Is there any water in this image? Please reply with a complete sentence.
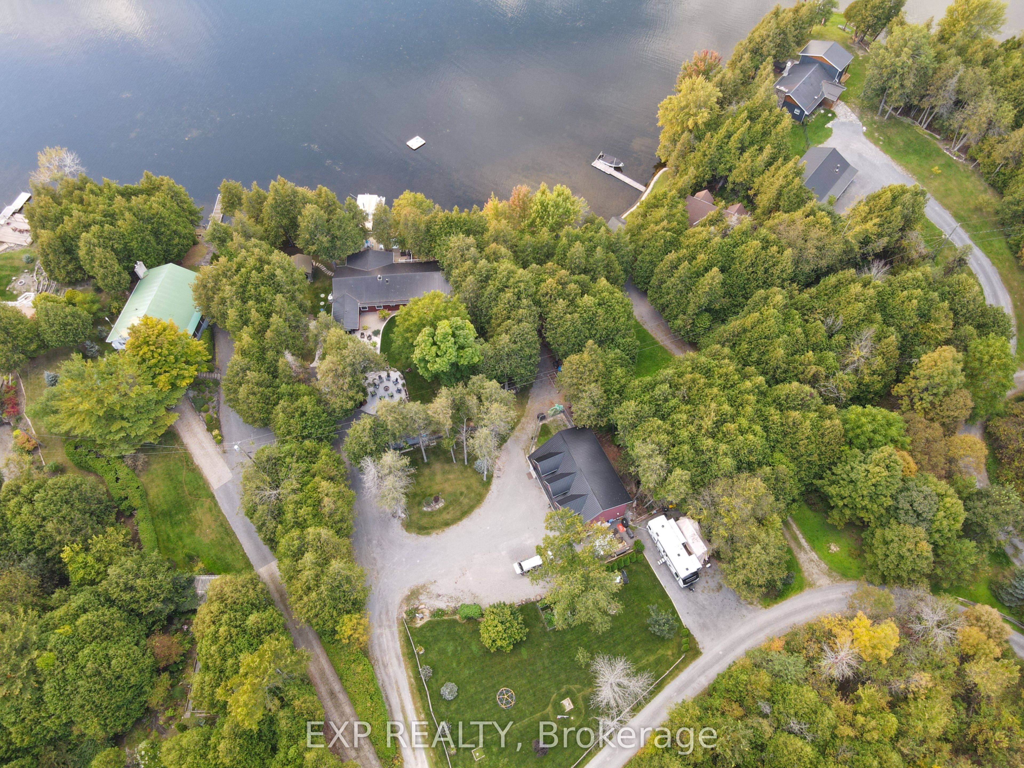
Yes, there's water in this view.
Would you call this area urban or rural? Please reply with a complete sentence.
The area is rural.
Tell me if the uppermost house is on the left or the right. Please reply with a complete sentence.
The uppermost house appears in the right half of the scene.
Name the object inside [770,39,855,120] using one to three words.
house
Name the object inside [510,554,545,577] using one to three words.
car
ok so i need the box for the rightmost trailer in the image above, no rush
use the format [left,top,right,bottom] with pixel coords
[645,514,701,587]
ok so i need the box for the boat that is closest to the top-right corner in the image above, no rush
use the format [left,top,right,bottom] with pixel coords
[597,153,624,168]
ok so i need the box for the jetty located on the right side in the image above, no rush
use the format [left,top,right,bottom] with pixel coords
[590,157,648,194]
